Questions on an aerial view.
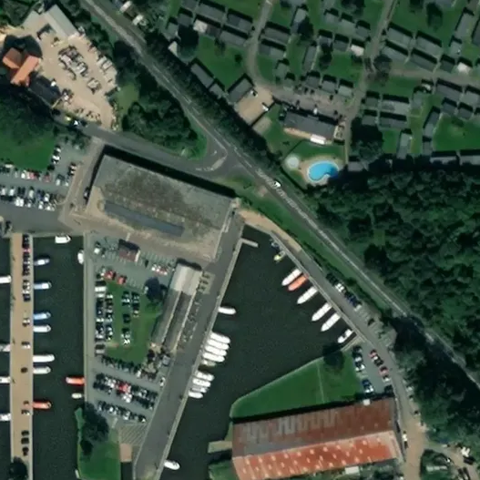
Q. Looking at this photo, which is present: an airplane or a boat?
boat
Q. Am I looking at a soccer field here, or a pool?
pool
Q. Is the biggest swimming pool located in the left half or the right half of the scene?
right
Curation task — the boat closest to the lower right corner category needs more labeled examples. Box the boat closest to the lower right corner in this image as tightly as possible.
[339,328,354,342]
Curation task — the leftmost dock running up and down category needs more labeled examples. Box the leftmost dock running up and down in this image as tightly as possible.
[10,236,33,480]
